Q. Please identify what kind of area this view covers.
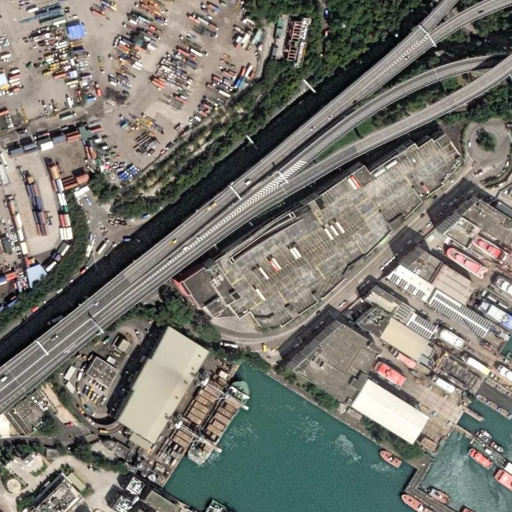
port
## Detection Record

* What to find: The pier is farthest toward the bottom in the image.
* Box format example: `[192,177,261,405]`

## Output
[404,462,456,512]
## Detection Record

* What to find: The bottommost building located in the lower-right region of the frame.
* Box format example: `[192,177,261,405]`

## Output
[348,378,430,444]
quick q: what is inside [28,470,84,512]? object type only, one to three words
building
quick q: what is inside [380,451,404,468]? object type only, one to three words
boat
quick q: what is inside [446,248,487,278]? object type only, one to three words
ship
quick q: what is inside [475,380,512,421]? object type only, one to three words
pier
